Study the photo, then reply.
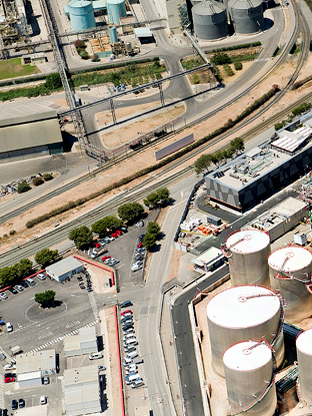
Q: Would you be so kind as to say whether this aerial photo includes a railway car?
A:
Yes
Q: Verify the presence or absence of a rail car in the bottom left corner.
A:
No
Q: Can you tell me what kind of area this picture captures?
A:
industrial area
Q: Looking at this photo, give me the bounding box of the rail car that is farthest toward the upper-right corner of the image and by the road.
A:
[170,116,195,133]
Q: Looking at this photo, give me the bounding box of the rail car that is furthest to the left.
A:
[126,135,152,151]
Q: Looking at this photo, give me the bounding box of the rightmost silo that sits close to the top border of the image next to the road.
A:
[229,0,263,33]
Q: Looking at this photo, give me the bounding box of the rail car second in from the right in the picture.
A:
[145,127,169,144]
